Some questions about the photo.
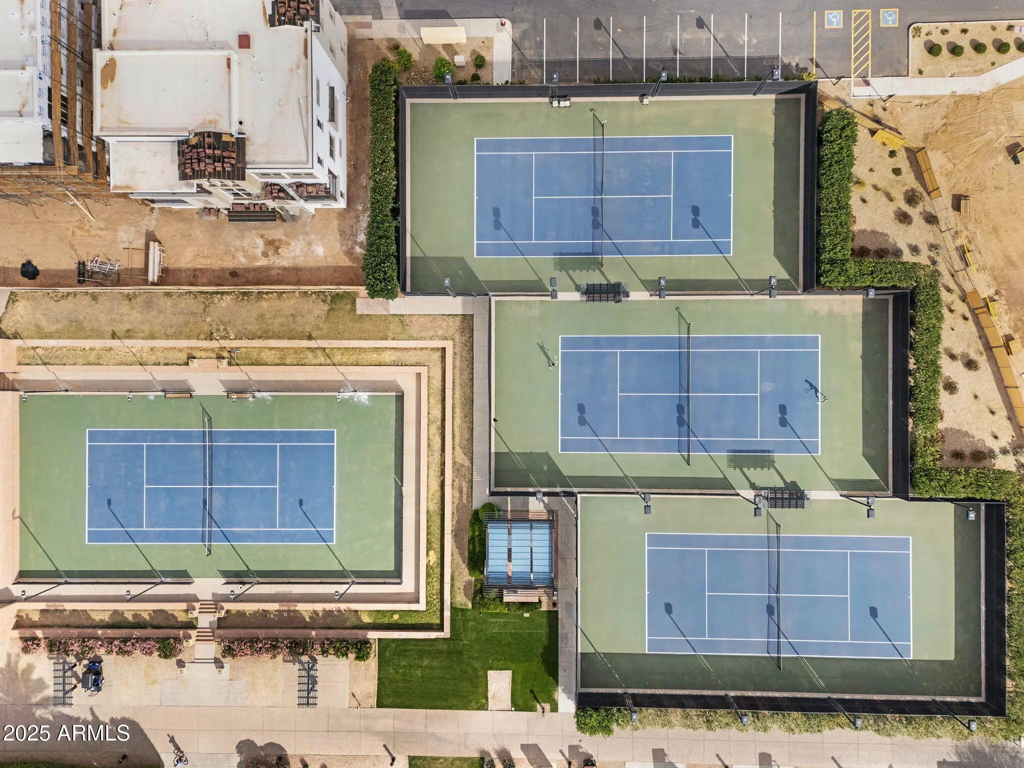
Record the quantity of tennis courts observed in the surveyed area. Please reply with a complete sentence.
The photo contains 4 tennis courts.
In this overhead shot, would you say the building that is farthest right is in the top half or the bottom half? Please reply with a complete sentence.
You can find the building that is farthest right in the bottom half.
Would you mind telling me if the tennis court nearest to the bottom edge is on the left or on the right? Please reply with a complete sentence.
It is on the right.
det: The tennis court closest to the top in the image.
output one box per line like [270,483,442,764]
[406,94,805,298]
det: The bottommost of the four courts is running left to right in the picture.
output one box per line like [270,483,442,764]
[579,494,986,702]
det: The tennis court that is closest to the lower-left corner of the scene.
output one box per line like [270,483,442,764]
[18,390,403,584]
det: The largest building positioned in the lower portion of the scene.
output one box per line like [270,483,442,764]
[483,511,555,597]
